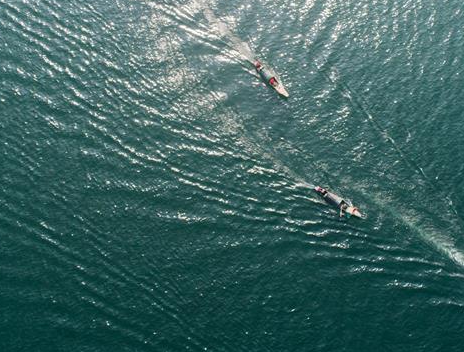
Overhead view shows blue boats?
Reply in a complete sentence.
No, this view has no blue boat in it.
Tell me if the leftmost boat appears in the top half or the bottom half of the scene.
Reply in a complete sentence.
Seen from above, the leftmost boat lies in the top half of the view.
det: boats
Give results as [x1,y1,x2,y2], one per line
[313,185,367,219]
[254,60,289,97]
